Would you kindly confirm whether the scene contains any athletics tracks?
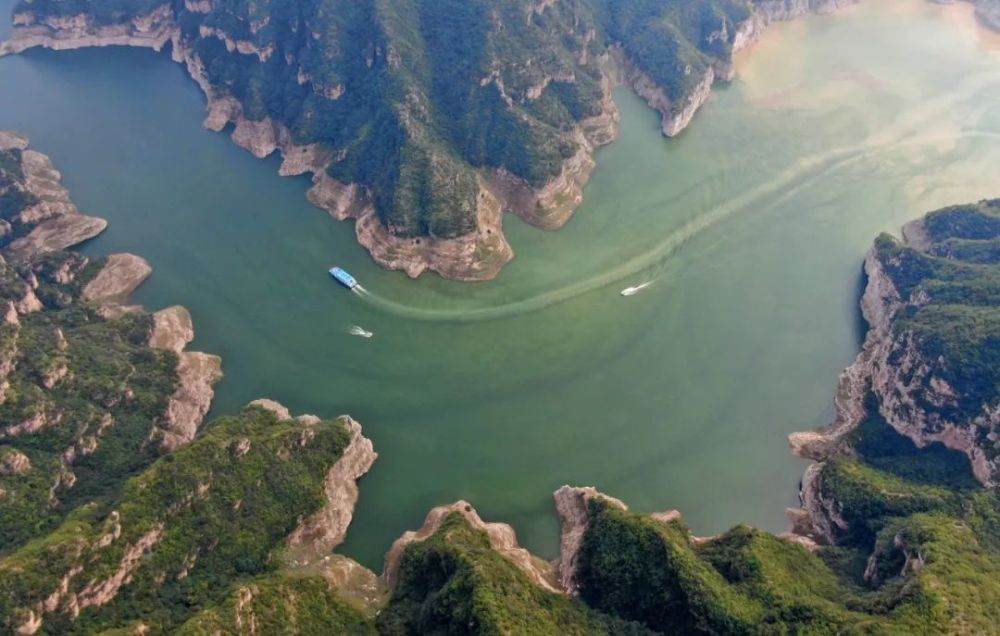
No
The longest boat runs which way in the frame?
diagonally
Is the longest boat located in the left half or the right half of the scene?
left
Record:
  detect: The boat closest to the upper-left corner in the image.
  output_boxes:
[331,268,357,288]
